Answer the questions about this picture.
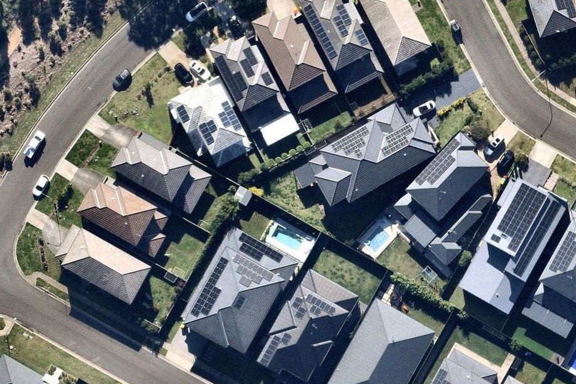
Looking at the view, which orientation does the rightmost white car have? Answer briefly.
on a diagonal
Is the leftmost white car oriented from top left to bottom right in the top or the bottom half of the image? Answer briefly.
top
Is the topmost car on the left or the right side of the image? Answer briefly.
left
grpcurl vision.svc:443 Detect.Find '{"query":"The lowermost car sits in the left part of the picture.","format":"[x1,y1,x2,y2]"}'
[31,175,50,198]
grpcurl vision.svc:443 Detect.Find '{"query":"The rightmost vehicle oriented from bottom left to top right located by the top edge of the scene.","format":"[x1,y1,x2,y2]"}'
[184,0,209,22]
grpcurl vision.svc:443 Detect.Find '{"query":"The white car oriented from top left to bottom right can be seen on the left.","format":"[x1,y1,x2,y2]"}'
[189,58,210,82]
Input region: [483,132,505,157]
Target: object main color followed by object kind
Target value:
white car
